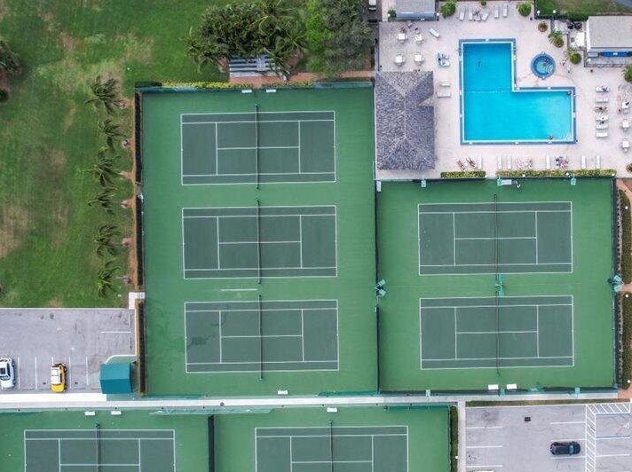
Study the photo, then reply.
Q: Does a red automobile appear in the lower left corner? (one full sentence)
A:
No, the scene shows no red automobile in the lower left corner.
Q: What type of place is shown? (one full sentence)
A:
The picture captures a sports ground.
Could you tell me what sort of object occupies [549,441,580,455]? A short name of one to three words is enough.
car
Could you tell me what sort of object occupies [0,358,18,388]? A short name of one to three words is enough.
car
